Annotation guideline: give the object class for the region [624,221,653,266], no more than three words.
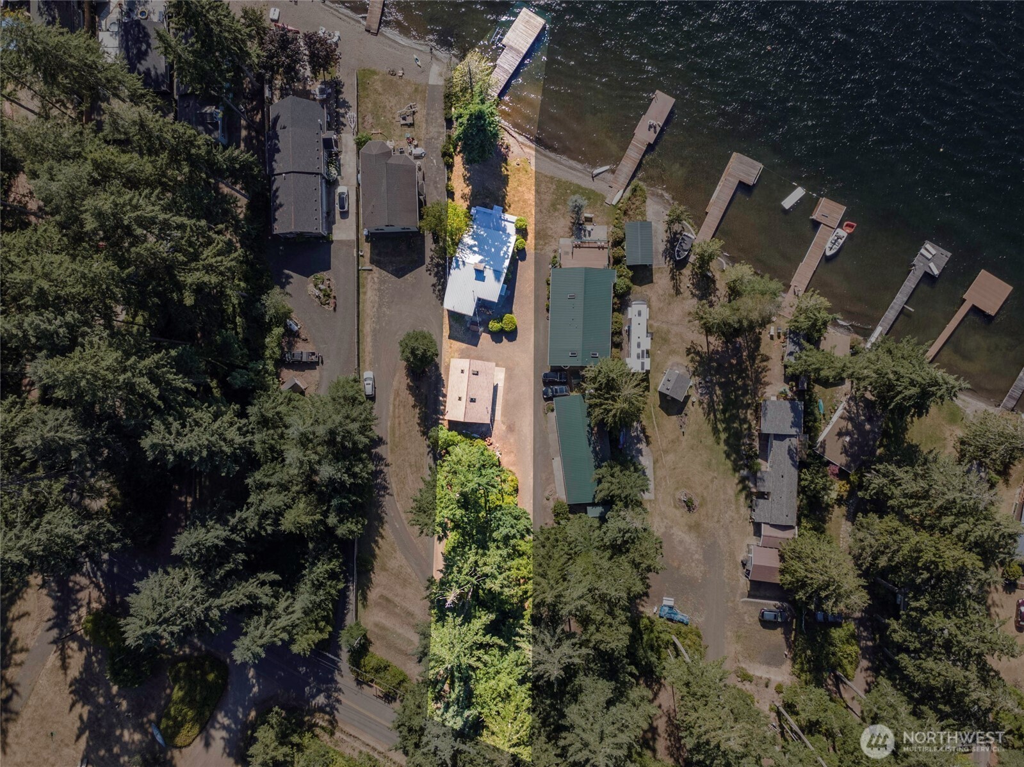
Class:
shed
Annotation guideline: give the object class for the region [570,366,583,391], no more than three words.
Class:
vehicle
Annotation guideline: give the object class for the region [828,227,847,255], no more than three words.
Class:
boat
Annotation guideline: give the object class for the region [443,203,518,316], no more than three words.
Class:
house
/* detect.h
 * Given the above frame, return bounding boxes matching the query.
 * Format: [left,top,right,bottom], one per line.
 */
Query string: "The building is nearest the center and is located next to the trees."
[445,358,495,423]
